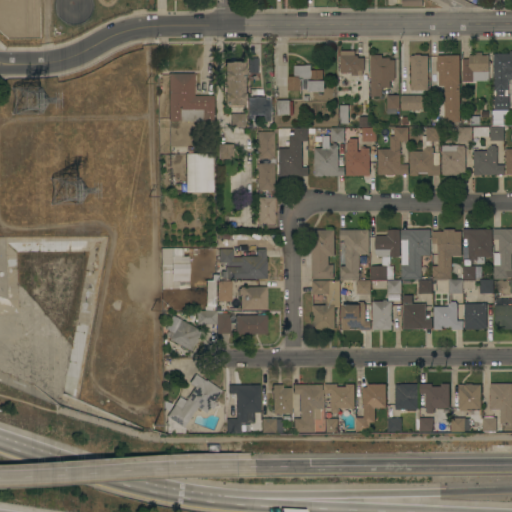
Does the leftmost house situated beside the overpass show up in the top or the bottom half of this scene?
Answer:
bottom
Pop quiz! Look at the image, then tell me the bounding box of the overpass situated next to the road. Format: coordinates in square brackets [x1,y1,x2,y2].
[0,452,257,488]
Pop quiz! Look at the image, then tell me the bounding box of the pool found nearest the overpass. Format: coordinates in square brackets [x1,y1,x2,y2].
[195,415,219,430]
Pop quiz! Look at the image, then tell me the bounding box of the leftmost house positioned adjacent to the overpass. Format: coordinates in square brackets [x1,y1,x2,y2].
[168,376,222,428]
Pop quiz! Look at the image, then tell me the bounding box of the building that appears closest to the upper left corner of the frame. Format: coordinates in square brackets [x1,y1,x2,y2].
[168,72,215,122]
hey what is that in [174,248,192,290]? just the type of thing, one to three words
greenhouse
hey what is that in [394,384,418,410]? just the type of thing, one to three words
house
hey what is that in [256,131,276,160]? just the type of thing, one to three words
building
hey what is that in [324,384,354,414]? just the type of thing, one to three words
house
